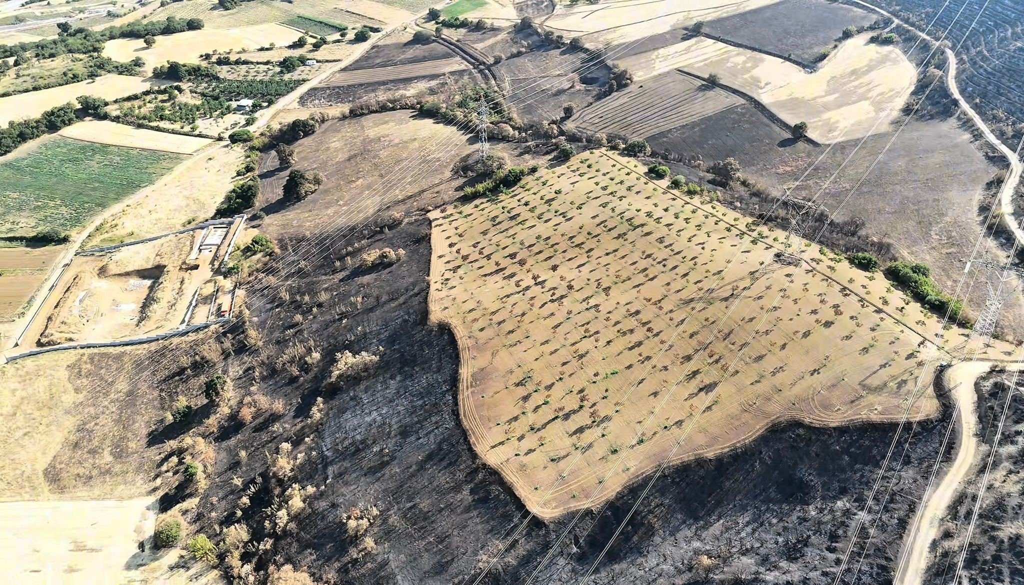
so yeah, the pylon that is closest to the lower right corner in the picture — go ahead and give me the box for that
[957,254,1024,360]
